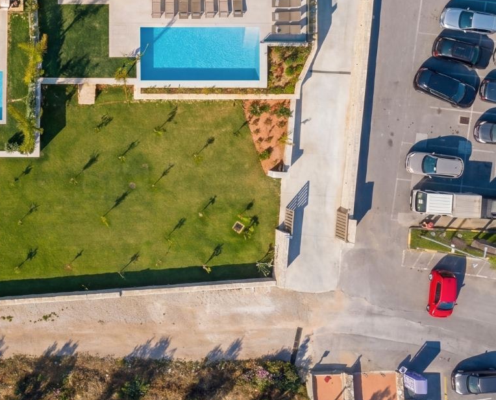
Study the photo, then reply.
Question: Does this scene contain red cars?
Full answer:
Yes, a red car appears in the view.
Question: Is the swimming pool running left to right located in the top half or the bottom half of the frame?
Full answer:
The top half of the photo is where the swimming pool running left to right is.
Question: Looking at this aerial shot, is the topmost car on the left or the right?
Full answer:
The topmost car is on the right side of the image.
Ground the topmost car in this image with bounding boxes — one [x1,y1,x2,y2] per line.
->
[435,7,496,38]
